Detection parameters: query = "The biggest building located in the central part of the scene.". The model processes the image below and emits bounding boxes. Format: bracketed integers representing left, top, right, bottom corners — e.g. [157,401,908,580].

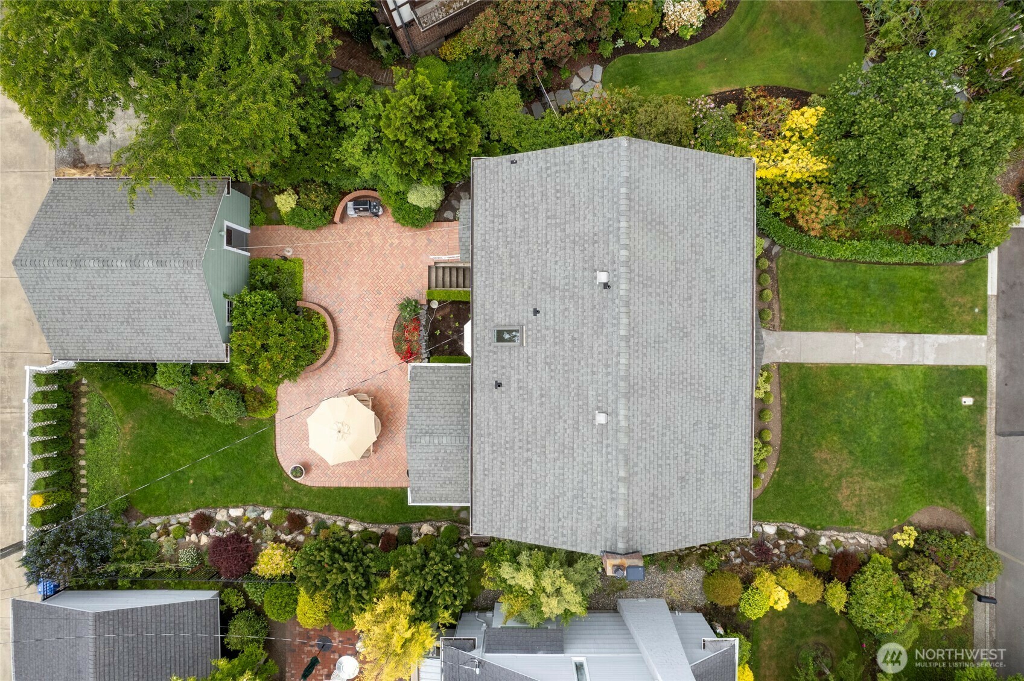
[406,140,766,582]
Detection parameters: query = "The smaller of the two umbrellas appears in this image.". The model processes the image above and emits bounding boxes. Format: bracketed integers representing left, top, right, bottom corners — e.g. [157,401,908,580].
[304,637,331,680]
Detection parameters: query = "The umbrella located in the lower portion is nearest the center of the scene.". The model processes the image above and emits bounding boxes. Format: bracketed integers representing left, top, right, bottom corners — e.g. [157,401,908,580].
[307,396,377,465]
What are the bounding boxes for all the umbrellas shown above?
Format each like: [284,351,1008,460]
[304,637,331,680]
[307,396,377,465]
